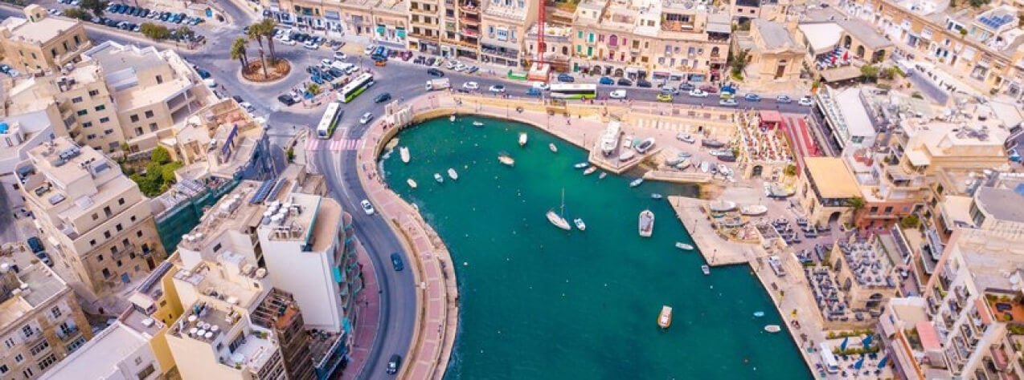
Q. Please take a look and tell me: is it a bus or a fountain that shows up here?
bus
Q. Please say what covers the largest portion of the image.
buildings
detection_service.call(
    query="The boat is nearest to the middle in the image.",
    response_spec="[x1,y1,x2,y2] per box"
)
[495,153,515,165]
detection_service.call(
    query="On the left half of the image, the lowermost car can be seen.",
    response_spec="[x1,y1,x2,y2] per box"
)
[386,352,401,376]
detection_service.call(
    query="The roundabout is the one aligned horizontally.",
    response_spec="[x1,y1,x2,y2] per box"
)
[237,59,294,85]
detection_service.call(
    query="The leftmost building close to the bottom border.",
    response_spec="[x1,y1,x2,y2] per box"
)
[0,239,90,379]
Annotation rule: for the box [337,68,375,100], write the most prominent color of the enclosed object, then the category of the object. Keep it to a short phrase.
white bus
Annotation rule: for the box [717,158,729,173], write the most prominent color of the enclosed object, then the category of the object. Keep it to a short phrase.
white boat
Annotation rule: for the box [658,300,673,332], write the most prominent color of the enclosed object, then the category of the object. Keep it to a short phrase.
white boat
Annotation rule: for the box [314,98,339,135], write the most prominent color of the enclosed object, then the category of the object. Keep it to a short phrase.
white bus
